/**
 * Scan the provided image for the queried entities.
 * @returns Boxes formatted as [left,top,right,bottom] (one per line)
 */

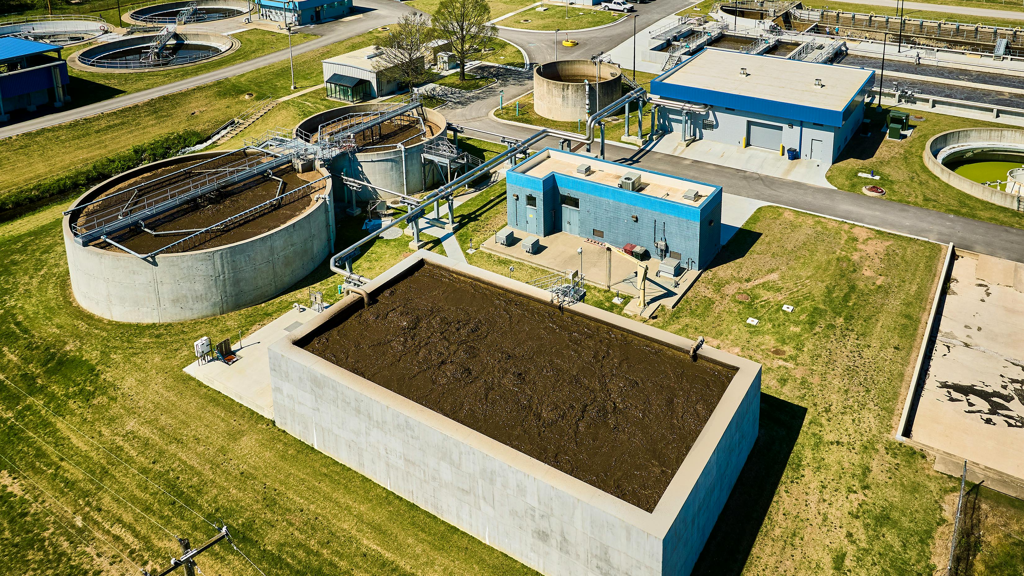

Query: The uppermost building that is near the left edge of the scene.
[0,37,64,120]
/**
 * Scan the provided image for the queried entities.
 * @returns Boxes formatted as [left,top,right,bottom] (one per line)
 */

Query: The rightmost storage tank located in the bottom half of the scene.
[268,249,762,576]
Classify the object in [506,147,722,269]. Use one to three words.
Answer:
building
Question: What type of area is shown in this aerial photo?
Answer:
industrial area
